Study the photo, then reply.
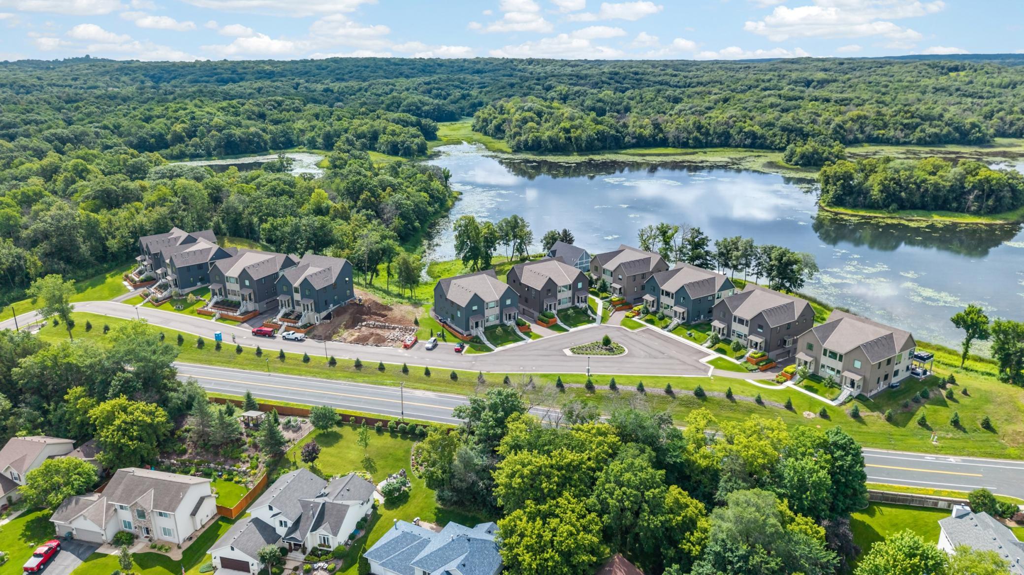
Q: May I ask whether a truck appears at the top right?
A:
No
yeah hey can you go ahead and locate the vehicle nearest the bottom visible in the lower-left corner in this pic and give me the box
[22,538,68,571]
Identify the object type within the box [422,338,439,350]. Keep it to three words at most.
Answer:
vehicle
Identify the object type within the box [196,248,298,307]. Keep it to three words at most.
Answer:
house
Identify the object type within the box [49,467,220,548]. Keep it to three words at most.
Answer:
house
